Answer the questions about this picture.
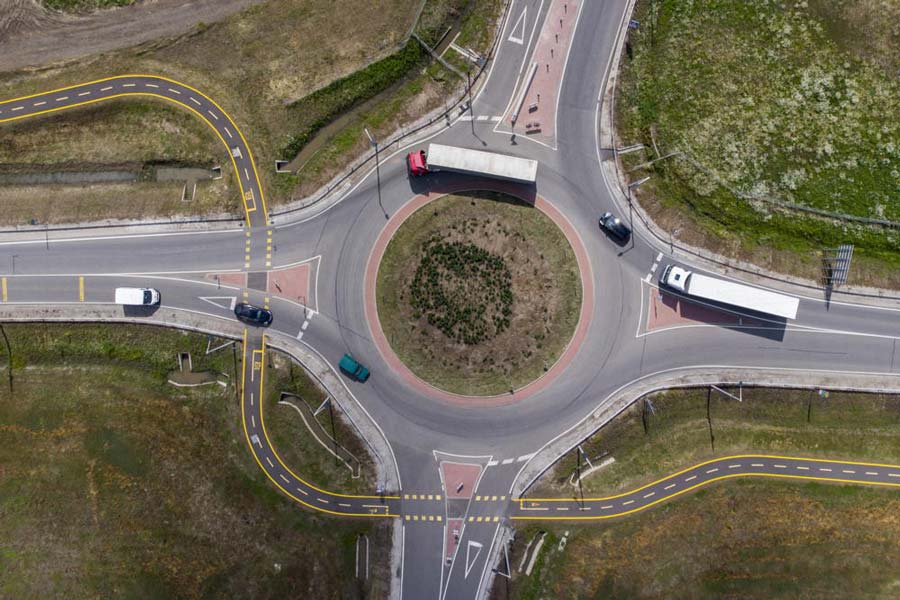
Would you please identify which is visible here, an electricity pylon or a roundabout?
roundabout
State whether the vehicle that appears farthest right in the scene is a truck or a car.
truck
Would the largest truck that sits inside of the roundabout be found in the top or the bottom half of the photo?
top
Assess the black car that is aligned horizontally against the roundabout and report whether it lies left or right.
on its left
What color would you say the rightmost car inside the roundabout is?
black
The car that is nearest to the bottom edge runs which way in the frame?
on a diagonal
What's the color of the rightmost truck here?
white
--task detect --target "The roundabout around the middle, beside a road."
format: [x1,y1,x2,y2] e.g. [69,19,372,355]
[318,128,643,454]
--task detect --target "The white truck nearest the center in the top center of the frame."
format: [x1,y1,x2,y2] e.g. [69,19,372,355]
[404,143,540,184]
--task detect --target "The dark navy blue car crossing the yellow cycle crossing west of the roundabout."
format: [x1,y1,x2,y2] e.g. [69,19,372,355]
[236,305,273,325]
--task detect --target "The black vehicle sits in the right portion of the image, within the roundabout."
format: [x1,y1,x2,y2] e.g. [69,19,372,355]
[598,213,630,244]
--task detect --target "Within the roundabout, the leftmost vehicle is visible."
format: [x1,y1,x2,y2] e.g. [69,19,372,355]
[339,353,369,380]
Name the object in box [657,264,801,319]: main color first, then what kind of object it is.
white truck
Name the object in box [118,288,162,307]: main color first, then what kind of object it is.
white vehicle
